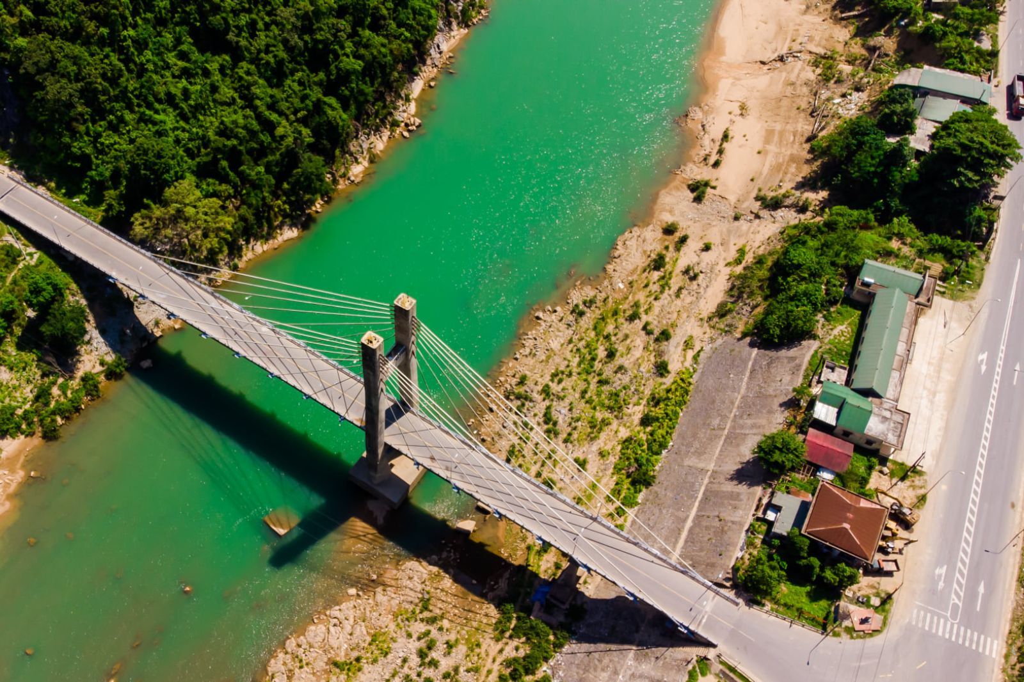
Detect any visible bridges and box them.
[0,167,744,647]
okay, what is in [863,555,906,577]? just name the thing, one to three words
truck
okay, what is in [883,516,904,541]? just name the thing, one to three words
work vehicle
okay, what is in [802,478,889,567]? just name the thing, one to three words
house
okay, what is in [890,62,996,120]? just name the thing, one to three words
building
